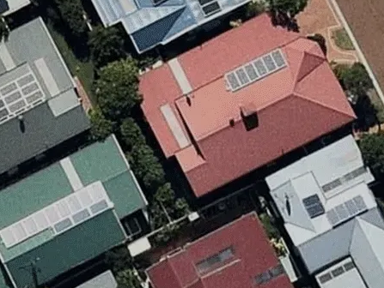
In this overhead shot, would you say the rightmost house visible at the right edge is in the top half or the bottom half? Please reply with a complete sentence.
You can find the rightmost house visible at the right edge in the bottom half.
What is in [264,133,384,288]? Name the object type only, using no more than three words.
house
